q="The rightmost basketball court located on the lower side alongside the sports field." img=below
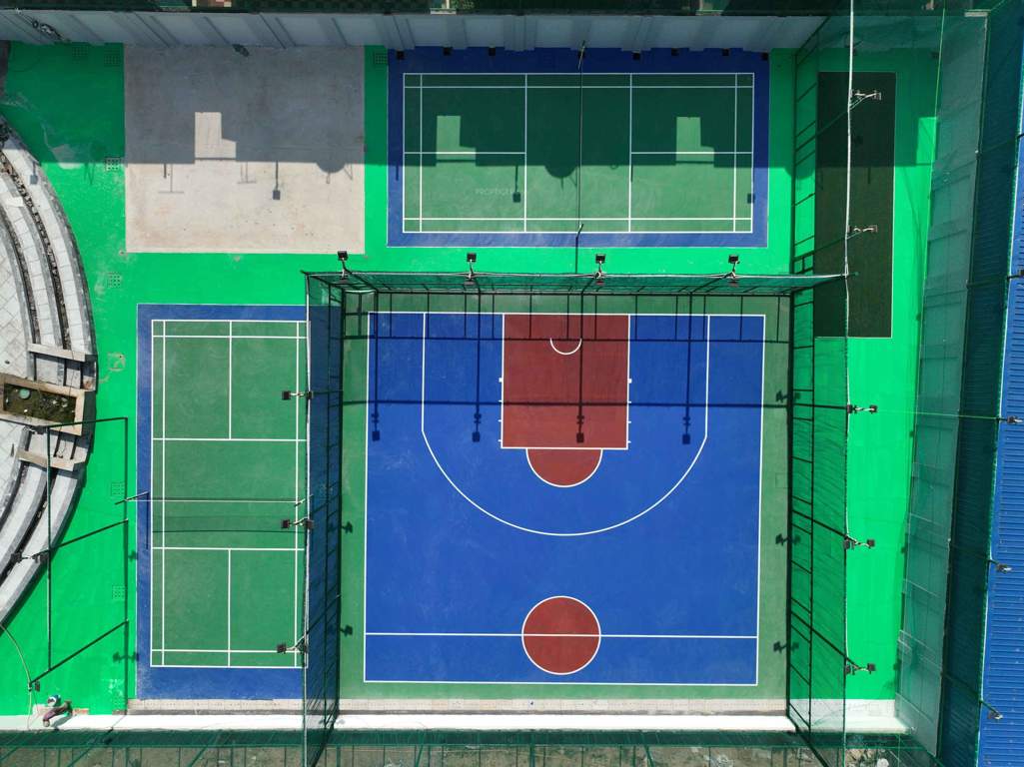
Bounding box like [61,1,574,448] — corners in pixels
[339,293,790,699]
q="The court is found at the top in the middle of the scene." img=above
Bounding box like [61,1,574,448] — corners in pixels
[386,45,771,247]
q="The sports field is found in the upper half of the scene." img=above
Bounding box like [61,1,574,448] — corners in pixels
[815,70,898,339]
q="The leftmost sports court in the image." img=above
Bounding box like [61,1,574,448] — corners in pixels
[135,303,340,699]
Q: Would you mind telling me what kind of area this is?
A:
sports ground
